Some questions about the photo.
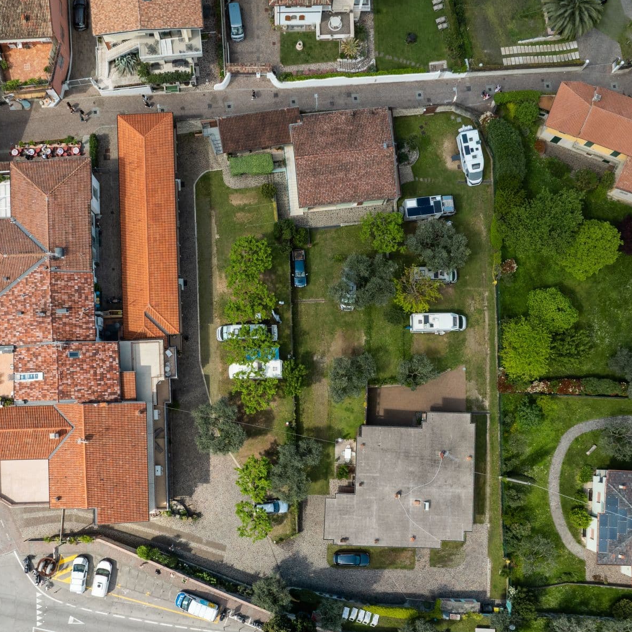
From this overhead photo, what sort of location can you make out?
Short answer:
residential area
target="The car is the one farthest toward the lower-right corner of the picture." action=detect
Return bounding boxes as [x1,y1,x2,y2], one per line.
[333,549,369,567]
